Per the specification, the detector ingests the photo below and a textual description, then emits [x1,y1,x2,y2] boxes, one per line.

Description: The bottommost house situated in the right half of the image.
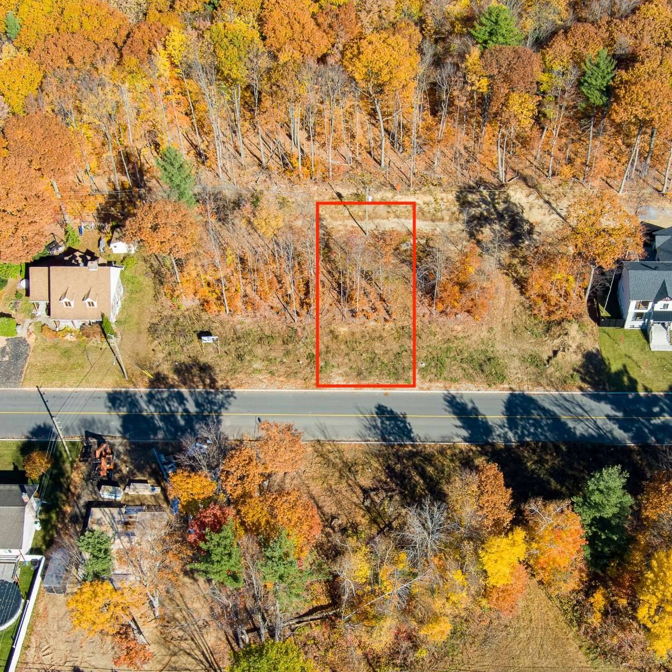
[616,261,672,352]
